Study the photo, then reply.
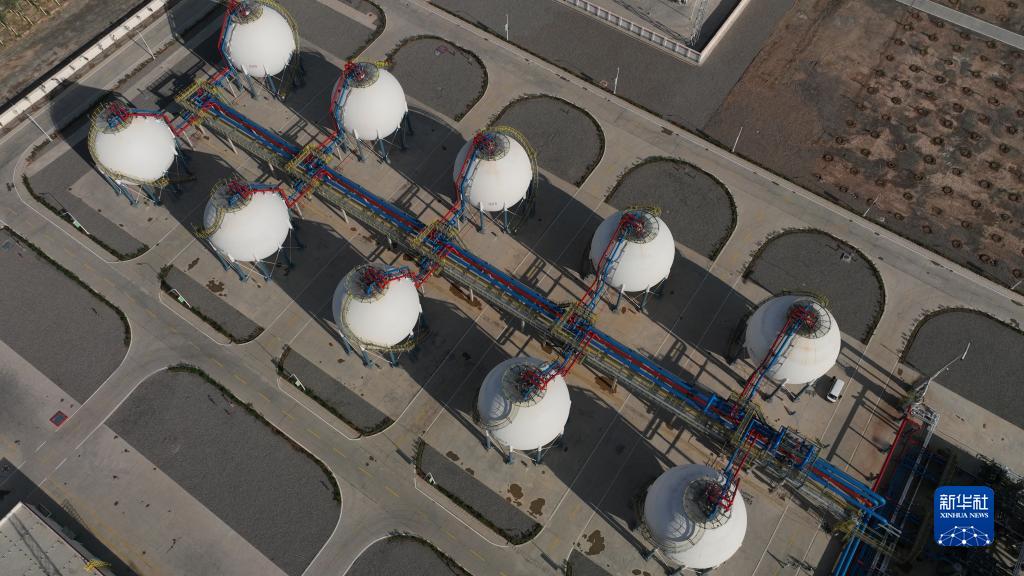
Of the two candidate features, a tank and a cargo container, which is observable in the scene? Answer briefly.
tank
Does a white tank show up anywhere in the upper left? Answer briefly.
Yes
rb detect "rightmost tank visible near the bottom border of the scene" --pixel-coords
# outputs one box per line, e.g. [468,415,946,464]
[632,446,747,576]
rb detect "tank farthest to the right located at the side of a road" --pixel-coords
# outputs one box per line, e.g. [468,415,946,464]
[726,287,840,409]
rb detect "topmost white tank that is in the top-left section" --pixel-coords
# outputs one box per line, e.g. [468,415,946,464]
[211,0,308,98]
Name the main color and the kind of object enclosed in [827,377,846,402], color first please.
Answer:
white vehicle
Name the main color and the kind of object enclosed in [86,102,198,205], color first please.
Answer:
white storage tank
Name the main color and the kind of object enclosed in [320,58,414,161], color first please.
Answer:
white storage tank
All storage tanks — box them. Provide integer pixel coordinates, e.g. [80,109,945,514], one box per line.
[331,257,436,367]
[86,102,198,205]
[470,345,579,465]
[442,125,538,232]
[195,177,310,281]
[726,287,840,409]
[320,58,414,161]
[580,202,676,313]
[211,0,308,98]
[632,446,747,576]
